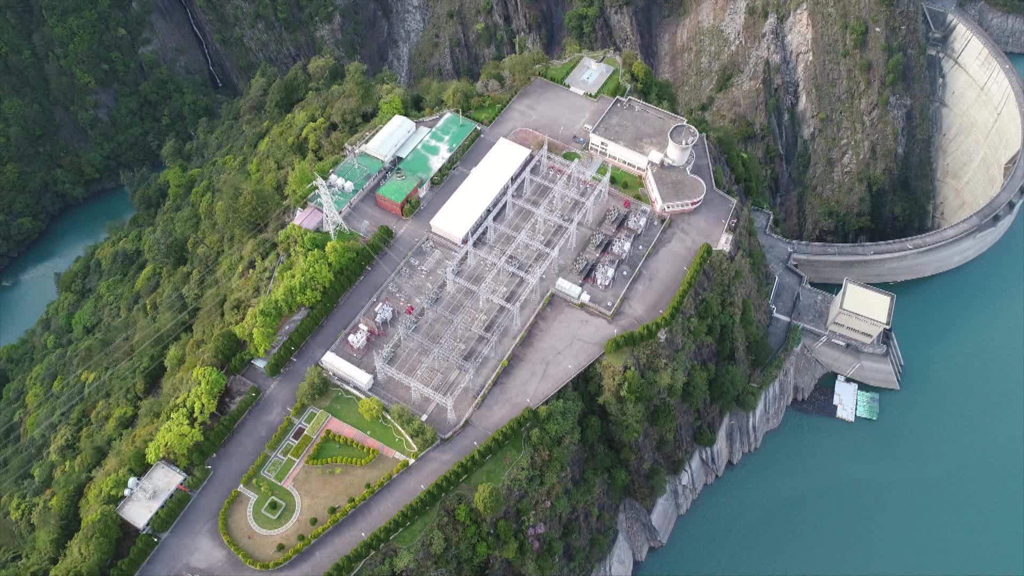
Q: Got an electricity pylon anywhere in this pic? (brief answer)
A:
Yes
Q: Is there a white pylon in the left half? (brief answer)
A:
Yes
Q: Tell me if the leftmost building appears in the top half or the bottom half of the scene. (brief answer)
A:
bottom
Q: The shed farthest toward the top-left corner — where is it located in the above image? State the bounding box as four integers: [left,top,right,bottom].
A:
[293,206,322,238]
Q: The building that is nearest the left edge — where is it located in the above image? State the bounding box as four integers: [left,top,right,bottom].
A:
[115,462,192,537]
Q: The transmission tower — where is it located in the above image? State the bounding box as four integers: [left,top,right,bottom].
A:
[309,173,346,244]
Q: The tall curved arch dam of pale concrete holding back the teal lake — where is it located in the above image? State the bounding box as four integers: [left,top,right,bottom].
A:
[786,14,1024,288]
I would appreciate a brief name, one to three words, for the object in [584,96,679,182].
building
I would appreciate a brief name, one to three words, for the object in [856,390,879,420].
pier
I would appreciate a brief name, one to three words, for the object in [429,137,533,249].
building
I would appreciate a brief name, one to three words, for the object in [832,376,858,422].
pier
